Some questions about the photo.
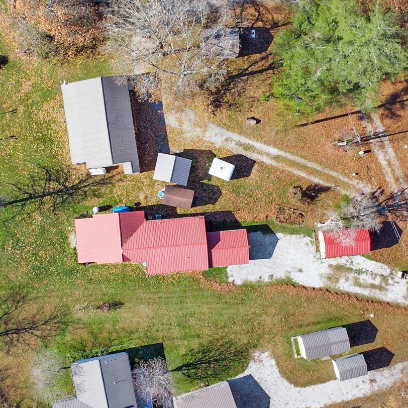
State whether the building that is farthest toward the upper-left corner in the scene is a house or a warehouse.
house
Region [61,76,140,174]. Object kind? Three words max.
house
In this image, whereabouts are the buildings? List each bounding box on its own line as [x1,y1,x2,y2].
[52,352,138,408]
[74,211,250,275]
[199,28,240,61]
[332,352,368,382]
[319,229,371,258]
[208,158,235,181]
[162,185,194,209]
[296,326,350,360]
[61,76,140,174]
[177,381,236,408]
[153,153,192,186]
